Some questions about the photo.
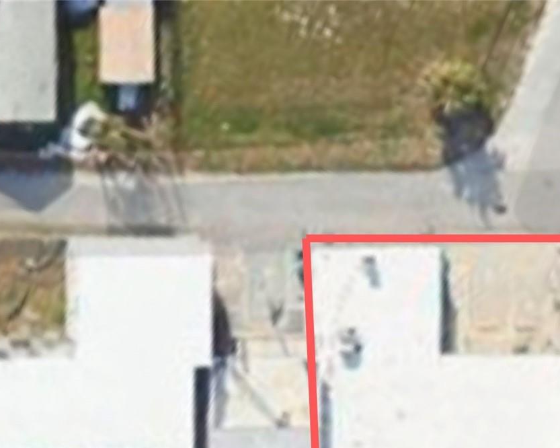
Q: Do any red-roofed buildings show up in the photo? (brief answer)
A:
No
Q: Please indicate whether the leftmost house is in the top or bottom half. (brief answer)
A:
top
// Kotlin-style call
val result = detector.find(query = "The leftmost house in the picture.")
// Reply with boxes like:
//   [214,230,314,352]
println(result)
[0,0,57,122]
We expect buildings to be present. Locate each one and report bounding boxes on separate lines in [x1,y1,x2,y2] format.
[99,0,154,109]
[0,239,213,448]
[0,0,57,122]
[309,245,560,448]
